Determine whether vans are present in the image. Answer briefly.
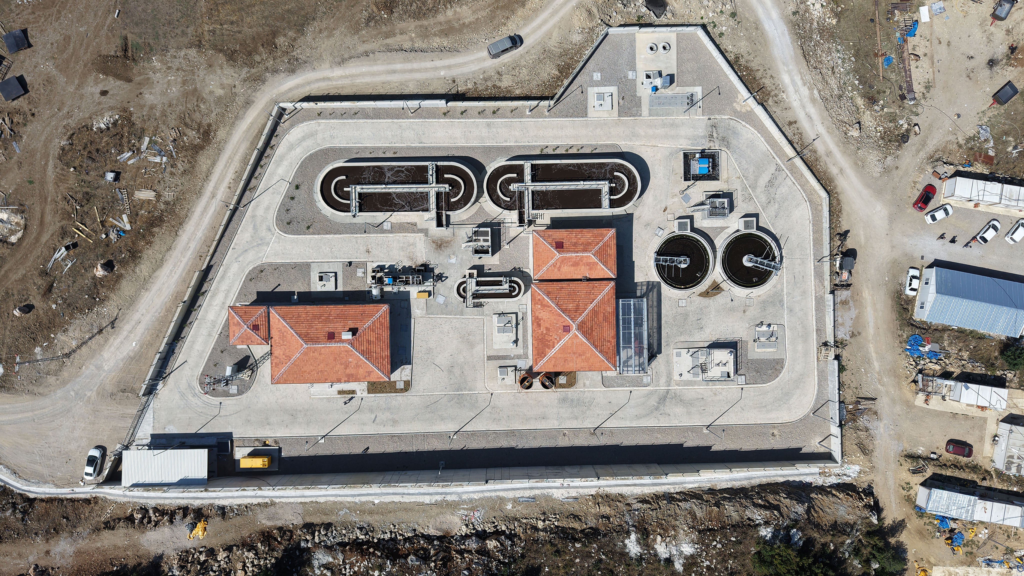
Yes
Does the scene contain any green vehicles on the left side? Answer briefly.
No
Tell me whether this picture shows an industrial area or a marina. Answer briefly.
industrial area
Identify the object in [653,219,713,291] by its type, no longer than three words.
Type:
storage tank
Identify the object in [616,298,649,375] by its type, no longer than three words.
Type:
shed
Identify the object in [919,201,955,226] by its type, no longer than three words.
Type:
car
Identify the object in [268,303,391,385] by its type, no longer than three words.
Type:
building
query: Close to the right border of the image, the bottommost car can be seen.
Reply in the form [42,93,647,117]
[939,438,976,459]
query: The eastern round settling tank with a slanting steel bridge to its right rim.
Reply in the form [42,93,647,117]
[718,218,788,291]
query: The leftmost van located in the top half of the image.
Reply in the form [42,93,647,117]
[484,32,523,60]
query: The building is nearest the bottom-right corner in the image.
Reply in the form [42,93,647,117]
[973,496,1023,528]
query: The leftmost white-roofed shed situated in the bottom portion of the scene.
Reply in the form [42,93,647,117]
[122,445,215,485]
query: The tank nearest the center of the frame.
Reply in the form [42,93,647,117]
[454,270,524,309]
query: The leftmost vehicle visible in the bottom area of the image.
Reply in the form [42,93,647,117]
[81,445,105,483]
